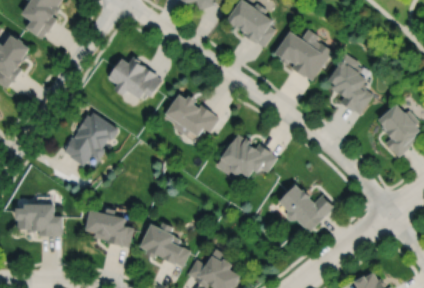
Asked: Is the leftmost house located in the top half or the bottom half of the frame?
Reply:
top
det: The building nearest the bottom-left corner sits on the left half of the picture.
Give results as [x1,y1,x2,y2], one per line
[16,204,64,237]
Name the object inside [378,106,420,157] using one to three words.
house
